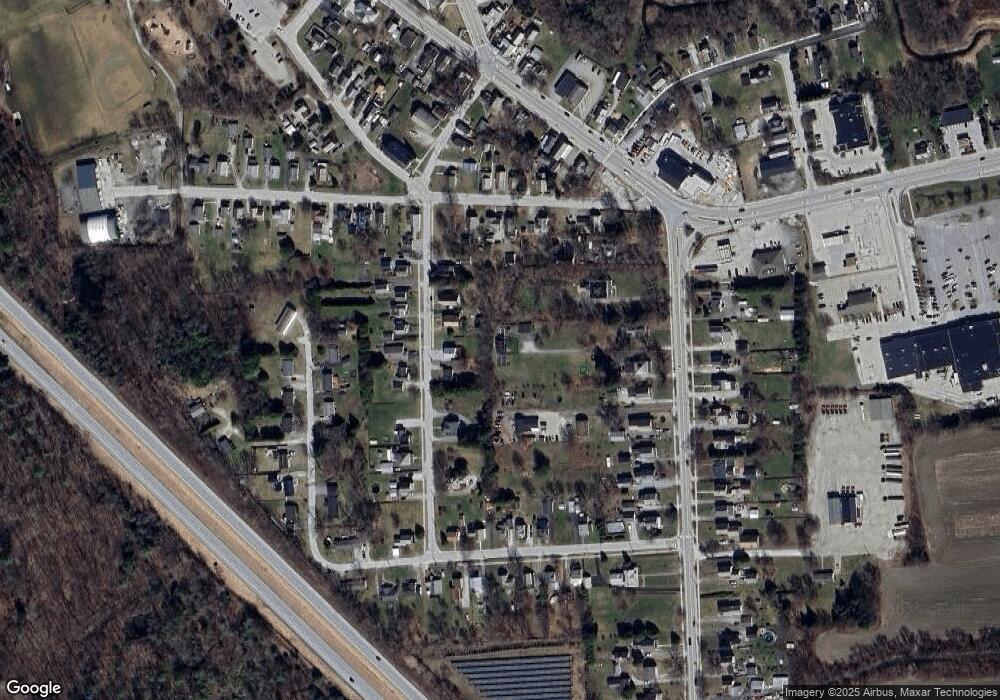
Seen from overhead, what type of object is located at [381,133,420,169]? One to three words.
building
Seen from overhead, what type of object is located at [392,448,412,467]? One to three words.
house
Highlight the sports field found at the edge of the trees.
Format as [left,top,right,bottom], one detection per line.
[2,0,170,152]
